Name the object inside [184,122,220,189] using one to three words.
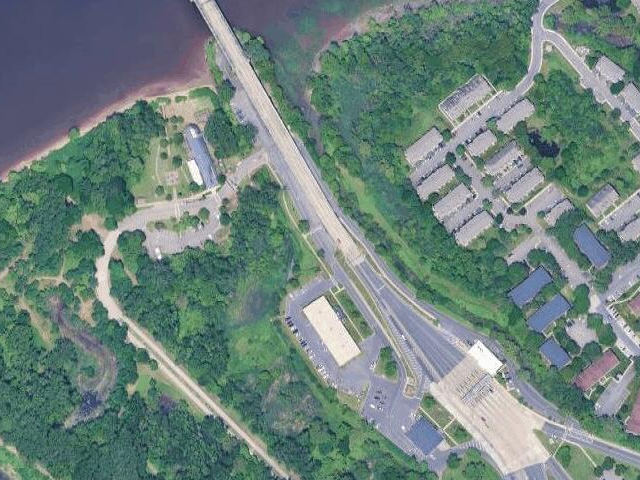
building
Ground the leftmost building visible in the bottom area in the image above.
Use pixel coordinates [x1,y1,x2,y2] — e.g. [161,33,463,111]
[303,296,361,367]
